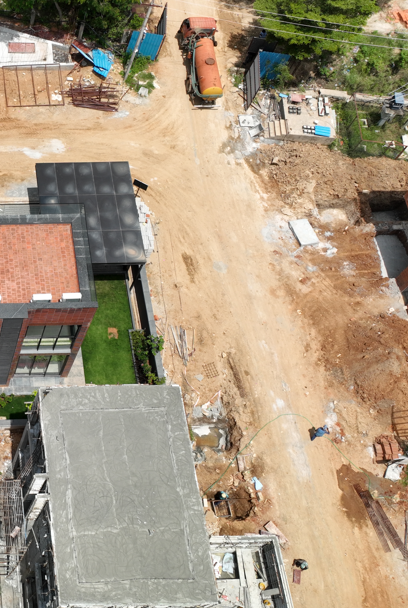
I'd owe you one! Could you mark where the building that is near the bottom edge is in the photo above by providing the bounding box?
[25,385,218,608]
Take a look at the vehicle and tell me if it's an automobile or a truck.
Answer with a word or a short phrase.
truck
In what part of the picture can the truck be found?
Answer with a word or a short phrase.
top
